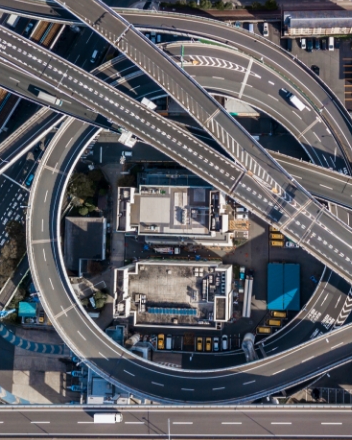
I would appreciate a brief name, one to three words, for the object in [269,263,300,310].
shed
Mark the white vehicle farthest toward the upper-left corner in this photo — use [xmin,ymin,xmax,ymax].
[5,14,20,30]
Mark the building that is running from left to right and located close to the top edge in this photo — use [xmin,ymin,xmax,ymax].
[283,9,352,38]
